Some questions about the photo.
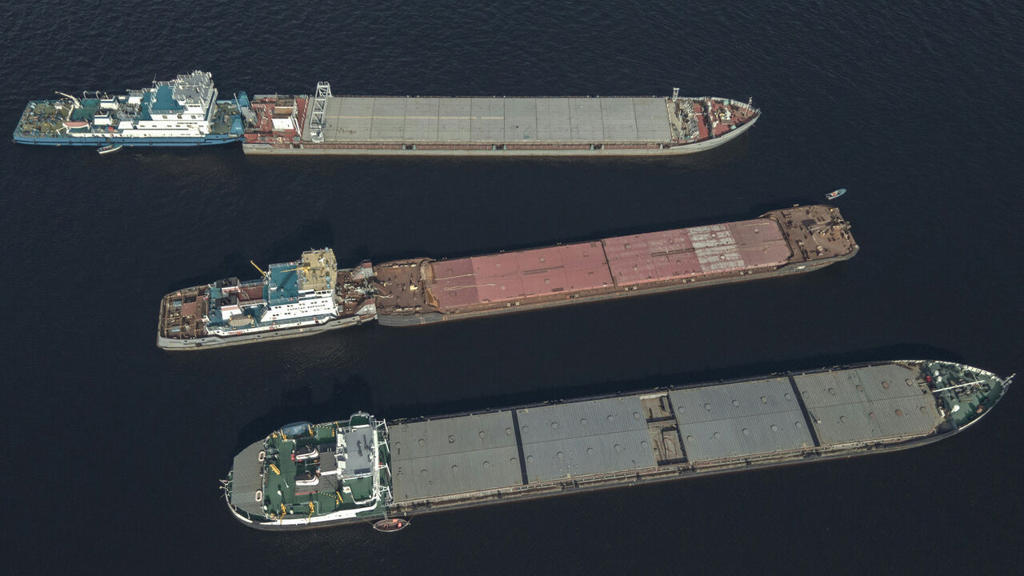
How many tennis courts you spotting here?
zero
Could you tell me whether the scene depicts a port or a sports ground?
port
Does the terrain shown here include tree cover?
No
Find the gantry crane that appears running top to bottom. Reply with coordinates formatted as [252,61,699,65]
[309,80,334,144]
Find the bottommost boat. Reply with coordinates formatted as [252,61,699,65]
[373,518,409,531]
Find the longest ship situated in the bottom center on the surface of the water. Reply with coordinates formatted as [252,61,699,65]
[219,361,1018,531]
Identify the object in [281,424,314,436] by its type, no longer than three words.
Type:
boat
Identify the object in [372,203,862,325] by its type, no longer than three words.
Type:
ship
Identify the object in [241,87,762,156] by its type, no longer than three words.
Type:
ship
